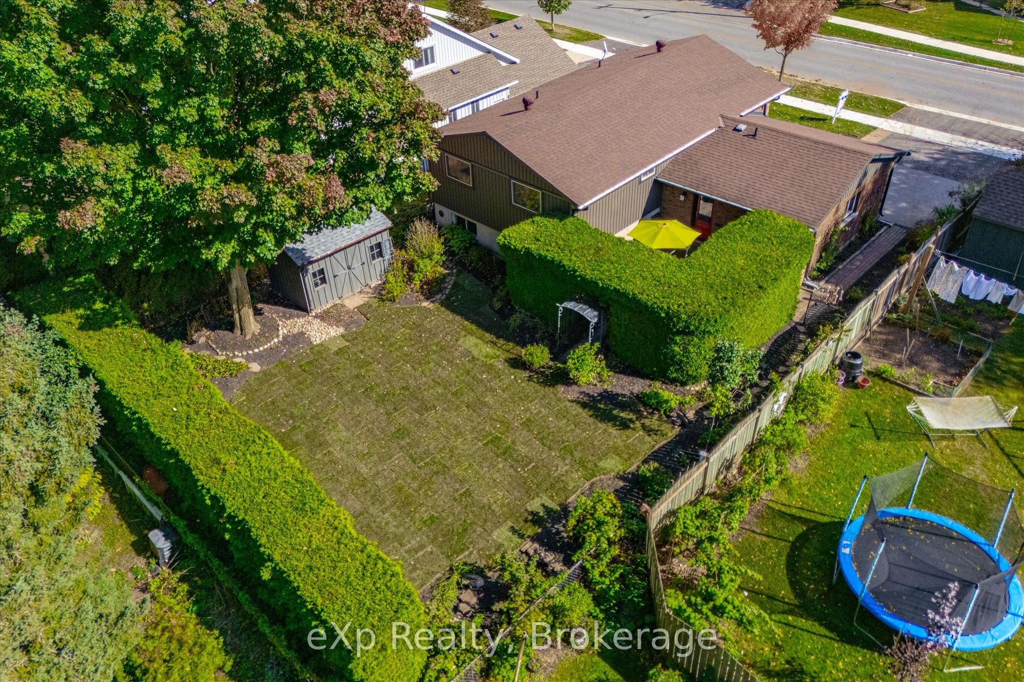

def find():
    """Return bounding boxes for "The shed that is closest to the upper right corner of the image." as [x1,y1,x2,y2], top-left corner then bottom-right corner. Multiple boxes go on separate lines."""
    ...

[961,157,1024,288]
